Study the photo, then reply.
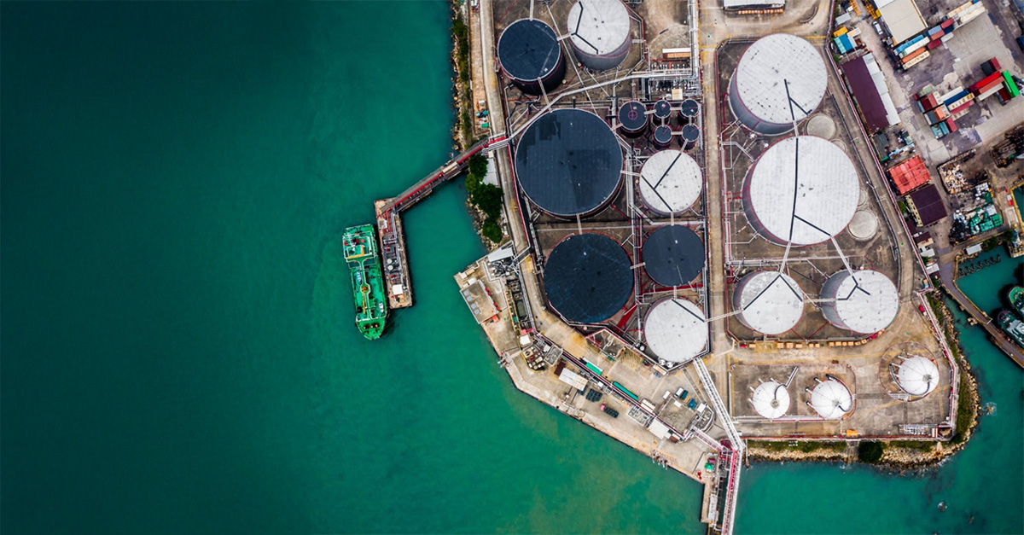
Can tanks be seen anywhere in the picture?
Yes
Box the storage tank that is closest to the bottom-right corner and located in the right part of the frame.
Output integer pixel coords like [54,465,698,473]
[887,350,940,398]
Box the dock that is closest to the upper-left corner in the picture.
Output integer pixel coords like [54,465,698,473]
[374,198,416,309]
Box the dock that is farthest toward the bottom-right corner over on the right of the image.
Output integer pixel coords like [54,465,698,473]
[942,275,1024,366]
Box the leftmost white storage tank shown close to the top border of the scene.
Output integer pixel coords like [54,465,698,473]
[568,0,632,71]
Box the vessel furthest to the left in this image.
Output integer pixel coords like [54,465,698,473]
[343,224,388,340]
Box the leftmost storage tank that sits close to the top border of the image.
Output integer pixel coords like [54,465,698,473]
[498,19,567,95]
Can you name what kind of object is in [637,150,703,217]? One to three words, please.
storage tank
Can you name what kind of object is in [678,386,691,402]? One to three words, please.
vehicle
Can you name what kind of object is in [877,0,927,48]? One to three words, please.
building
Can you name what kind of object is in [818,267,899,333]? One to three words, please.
storage tank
